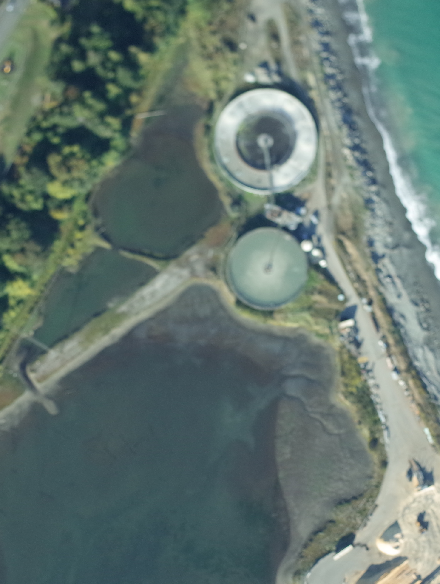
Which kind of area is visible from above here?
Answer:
industrial area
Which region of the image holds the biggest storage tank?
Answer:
top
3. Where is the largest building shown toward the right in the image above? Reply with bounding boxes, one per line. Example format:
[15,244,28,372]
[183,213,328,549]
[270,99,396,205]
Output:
[264,206,302,229]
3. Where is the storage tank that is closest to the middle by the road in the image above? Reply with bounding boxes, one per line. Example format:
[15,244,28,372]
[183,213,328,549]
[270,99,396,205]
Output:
[226,227,307,310]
